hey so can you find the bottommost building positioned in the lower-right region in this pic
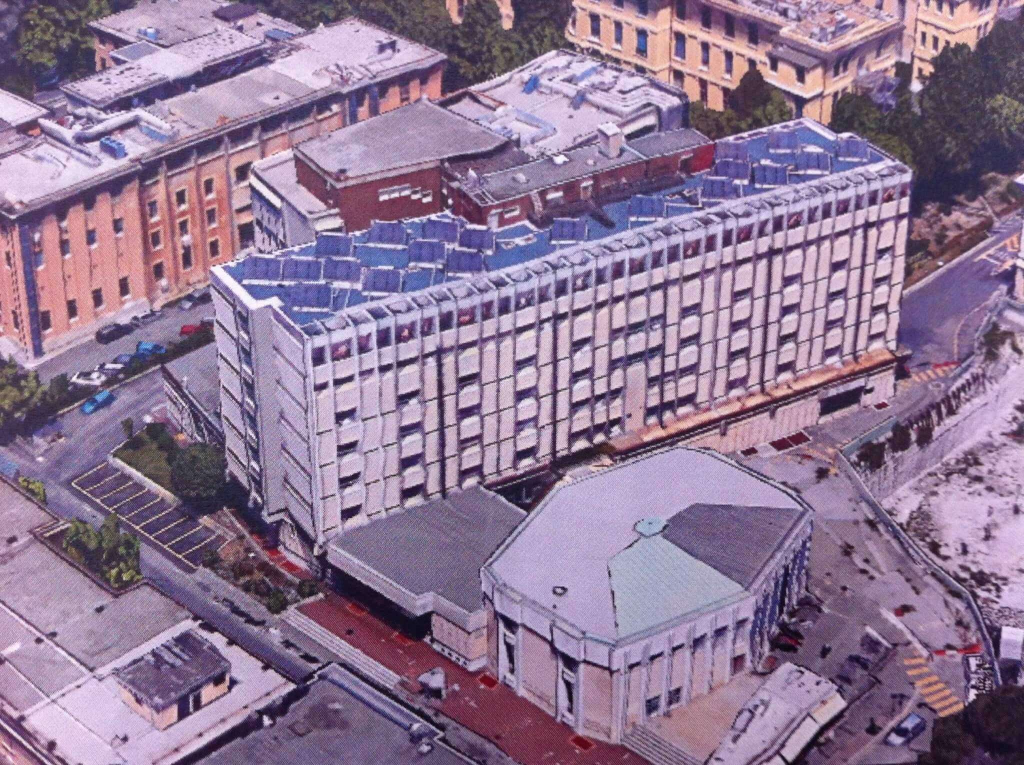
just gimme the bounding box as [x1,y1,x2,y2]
[704,662,844,765]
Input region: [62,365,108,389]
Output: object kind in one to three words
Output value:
car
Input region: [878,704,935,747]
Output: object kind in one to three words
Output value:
car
